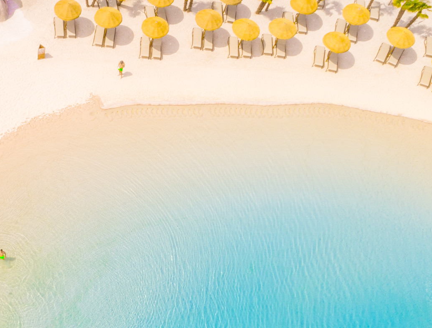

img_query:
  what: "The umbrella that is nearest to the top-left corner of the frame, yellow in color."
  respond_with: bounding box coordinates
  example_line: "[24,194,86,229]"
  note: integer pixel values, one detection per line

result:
[53,1,81,30]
